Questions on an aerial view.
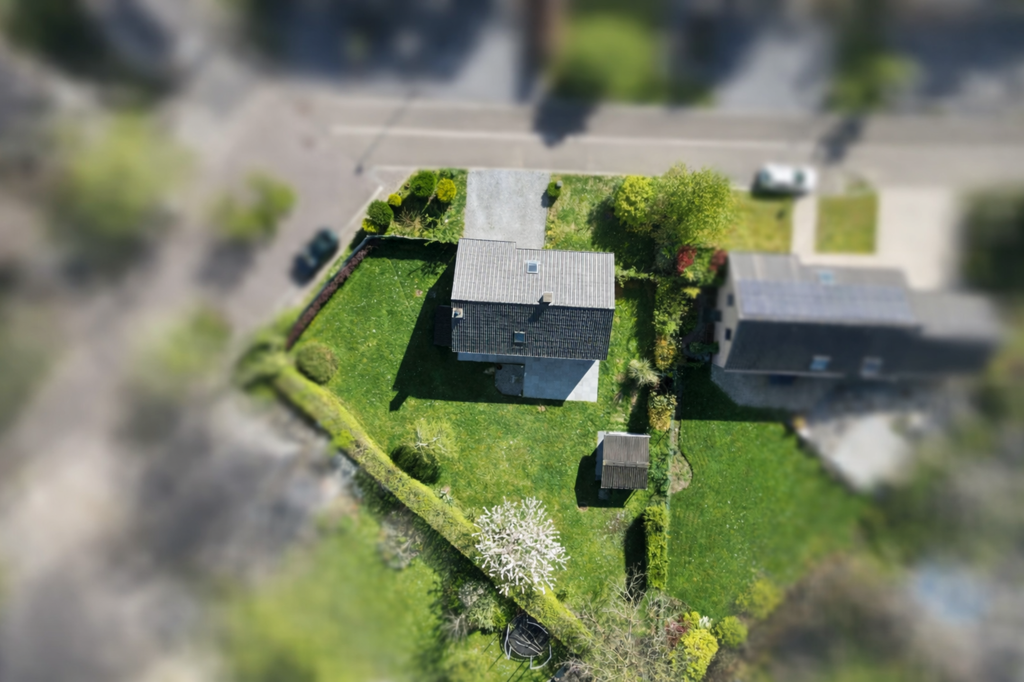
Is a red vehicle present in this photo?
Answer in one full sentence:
No, the photo shows no red vehicle.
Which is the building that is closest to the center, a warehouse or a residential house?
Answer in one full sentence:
I'd say the building that is closest to the center is a residential house.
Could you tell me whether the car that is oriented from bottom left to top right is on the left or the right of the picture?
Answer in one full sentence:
The car that is oriented from bottom left to top right is on the left side of the image.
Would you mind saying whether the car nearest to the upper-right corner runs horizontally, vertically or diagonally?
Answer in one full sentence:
The car nearest to the upper-right corner is laid out horizontally.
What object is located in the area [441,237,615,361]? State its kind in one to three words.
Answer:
house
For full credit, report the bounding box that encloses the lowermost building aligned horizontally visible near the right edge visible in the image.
[710,252,993,387]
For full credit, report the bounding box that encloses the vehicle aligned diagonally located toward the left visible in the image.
[290,227,343,283]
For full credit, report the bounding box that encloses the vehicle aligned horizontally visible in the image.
[758,163,818,193]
